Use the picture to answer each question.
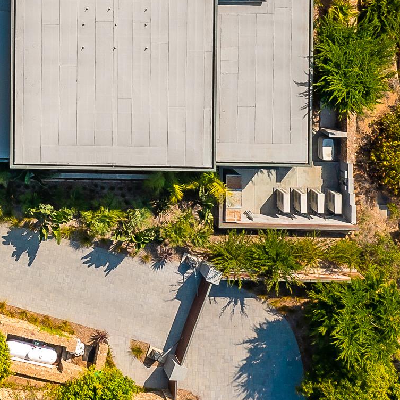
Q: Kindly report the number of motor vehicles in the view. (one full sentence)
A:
The count of motor vehicles is 0.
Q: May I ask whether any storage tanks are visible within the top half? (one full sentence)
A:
No, looking within the top half, there is no storage tank.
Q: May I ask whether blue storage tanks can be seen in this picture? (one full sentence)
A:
No, there isn't any blue storage tank down there.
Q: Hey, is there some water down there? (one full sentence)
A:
No, the picture contains no water.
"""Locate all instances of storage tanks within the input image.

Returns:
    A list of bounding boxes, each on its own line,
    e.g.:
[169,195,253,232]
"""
[1,338,61,369]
